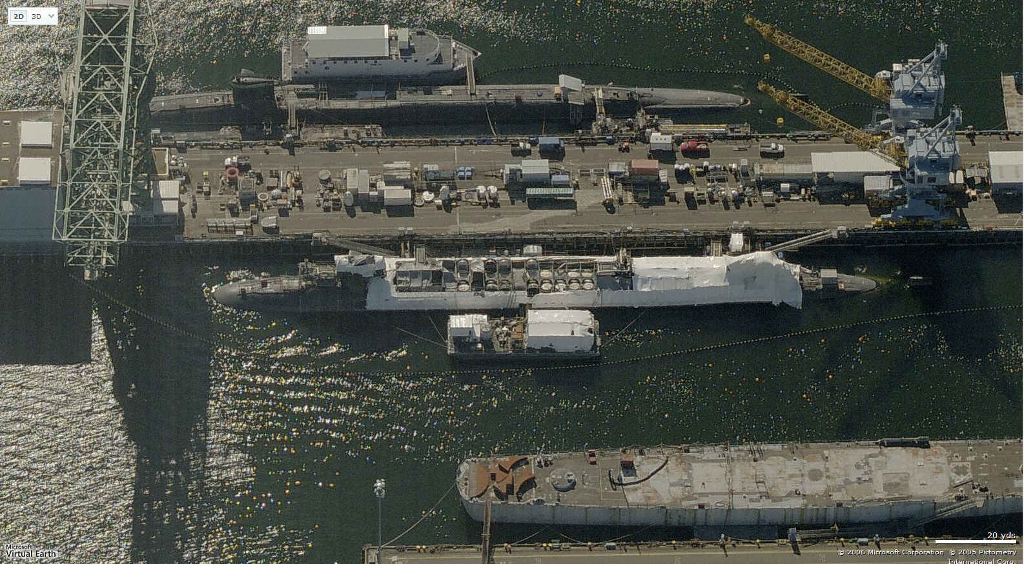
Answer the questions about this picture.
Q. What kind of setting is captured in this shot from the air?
port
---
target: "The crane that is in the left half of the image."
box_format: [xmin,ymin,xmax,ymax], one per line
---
[49,0,160,300]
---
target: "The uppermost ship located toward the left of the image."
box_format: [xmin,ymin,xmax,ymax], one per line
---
[282,21,481,82]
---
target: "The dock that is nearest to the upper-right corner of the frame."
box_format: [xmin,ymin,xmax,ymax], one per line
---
[1002,73,1024,134]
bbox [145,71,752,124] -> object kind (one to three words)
ship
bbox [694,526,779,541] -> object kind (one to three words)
ship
